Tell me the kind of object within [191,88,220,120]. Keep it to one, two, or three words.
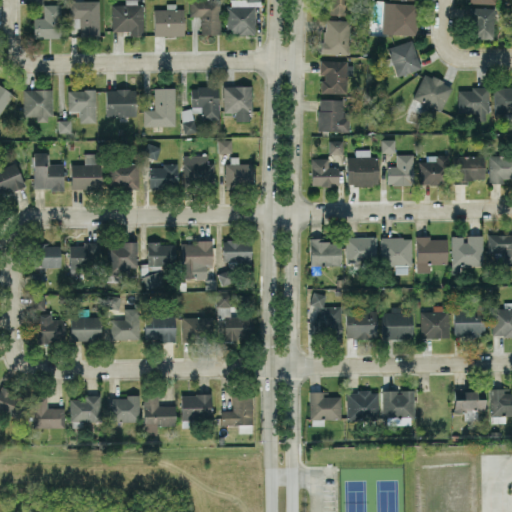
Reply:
house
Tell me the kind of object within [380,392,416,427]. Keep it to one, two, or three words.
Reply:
house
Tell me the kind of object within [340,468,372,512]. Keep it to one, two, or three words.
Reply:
tennis court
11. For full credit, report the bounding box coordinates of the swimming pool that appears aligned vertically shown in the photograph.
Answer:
[370,2,384,36]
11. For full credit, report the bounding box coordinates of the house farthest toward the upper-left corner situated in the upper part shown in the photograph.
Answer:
[34,4,60,38]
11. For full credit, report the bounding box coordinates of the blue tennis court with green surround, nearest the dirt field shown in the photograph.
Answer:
[372,468,404,512]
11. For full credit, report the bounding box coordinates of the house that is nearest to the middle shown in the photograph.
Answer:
[224,243,252,264]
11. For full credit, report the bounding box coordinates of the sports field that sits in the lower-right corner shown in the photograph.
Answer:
[416,451,477,512]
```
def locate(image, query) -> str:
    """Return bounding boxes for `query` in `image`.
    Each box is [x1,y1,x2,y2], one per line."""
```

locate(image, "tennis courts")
[372,468,404,512]
[340,468,372,512]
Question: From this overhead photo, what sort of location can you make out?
residential area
